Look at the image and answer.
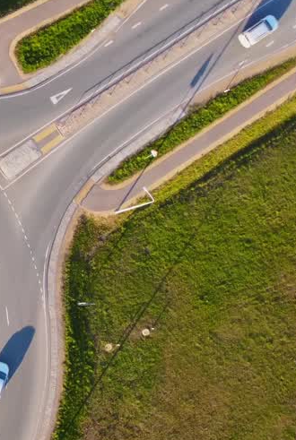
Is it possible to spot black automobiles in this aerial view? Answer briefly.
No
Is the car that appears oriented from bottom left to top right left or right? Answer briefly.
right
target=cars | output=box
[0,362,8,396]
[235,16,278,48]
